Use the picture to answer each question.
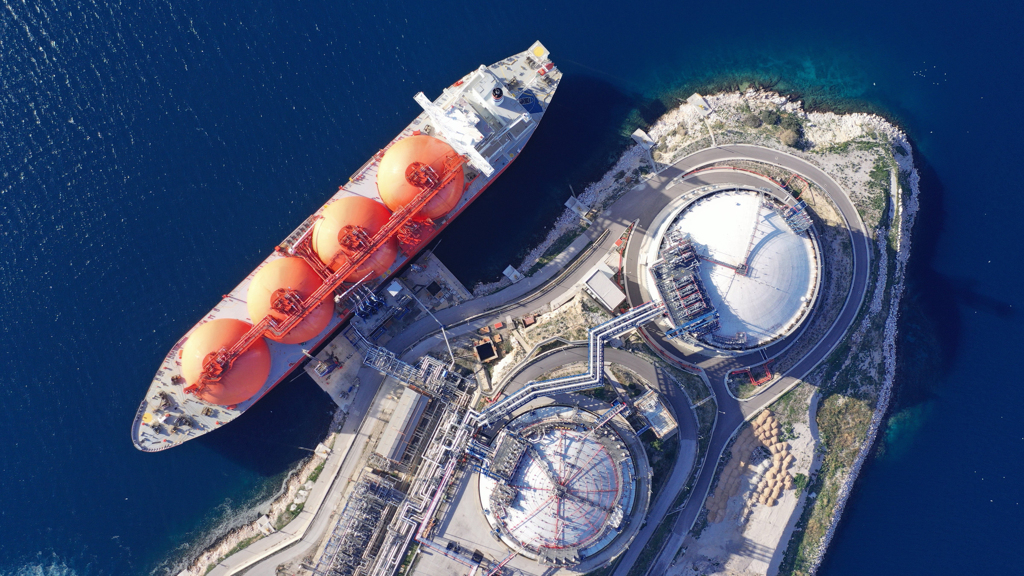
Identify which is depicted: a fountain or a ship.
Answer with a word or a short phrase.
ship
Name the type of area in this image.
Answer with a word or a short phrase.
industrial area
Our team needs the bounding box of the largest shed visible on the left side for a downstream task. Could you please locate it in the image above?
[376,385,431,462]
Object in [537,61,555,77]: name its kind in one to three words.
boat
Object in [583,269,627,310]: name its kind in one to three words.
building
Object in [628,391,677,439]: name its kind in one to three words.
building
